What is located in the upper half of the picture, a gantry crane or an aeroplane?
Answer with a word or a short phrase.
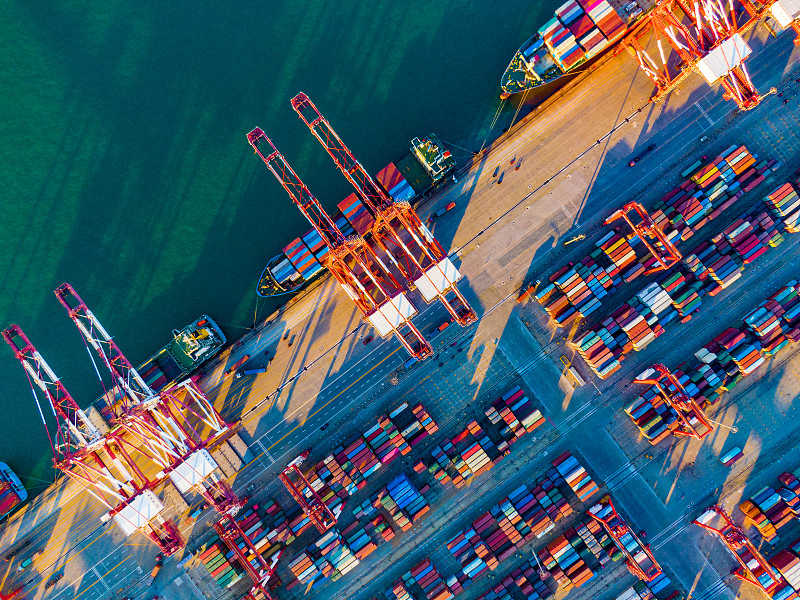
gantry crane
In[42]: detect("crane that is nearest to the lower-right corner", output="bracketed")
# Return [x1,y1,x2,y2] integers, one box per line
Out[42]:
[689,500,786,595]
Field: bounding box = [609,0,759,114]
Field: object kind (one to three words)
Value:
container crane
